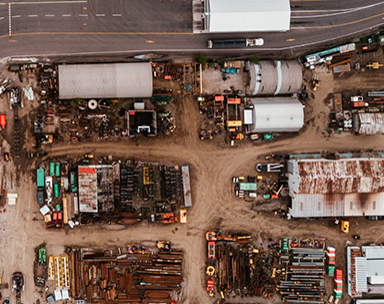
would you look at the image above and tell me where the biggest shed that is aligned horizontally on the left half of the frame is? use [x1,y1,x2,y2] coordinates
[57,65,155,99]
